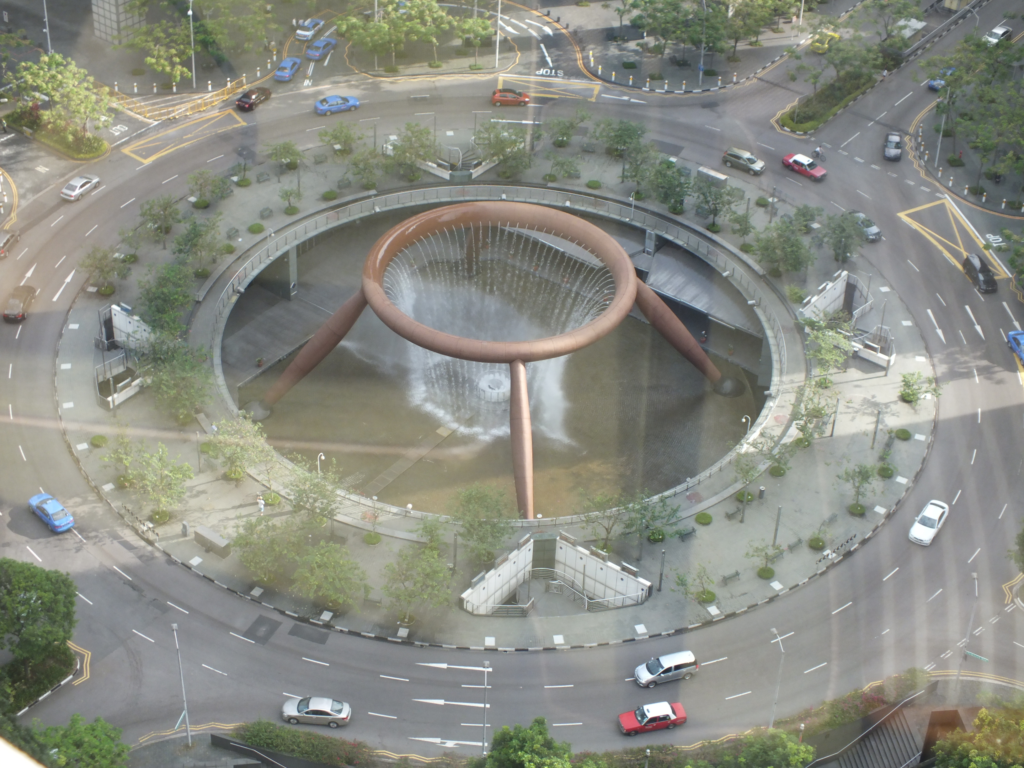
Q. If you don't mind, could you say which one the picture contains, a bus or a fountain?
fountain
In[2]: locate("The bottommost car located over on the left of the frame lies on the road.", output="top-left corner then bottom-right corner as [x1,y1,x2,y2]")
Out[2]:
[280,693,352,728]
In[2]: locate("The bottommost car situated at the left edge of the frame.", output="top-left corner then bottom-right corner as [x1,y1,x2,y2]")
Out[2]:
[26,492,76,532]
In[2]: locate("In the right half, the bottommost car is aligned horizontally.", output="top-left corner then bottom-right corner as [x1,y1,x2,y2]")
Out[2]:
[613,699,684,737]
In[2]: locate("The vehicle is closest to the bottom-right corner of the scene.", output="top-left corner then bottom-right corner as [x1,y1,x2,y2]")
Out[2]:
[910,497,950,541]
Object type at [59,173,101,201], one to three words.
car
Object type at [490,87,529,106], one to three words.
car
